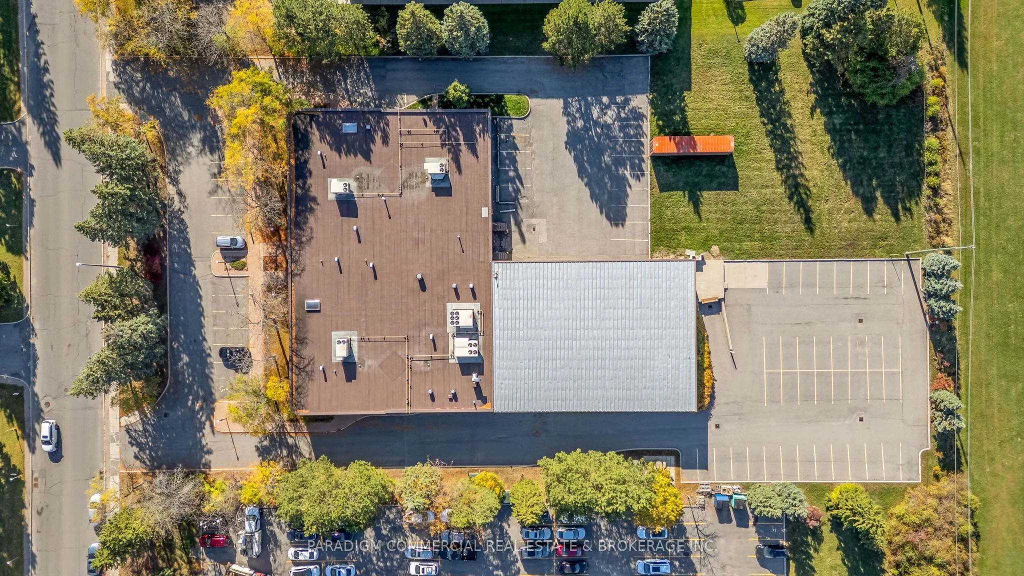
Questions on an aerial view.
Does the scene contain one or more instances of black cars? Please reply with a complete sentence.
Yes, a black car is visible in the scene.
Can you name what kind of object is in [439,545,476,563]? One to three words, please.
vehicle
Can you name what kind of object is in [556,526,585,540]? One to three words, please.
car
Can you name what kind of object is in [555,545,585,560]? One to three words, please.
car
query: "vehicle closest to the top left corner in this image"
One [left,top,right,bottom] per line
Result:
[216,235,246,249]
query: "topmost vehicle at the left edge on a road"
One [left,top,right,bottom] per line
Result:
[41,421,59,451]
